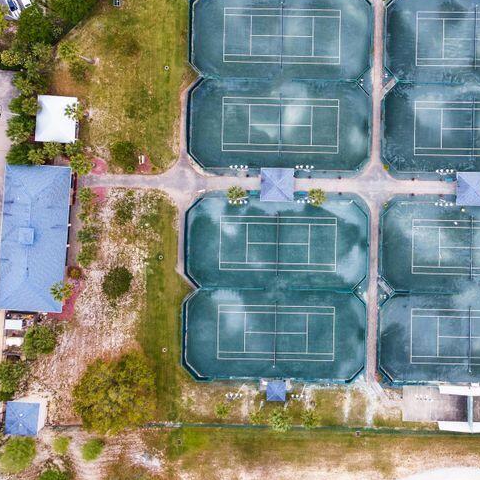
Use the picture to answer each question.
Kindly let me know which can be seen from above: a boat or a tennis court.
tennis court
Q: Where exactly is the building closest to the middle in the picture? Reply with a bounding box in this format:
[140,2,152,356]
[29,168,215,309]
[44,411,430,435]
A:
[259,168,293,202]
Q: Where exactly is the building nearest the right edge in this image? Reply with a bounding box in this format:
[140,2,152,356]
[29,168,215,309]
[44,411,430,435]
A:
[455,172,480,205]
